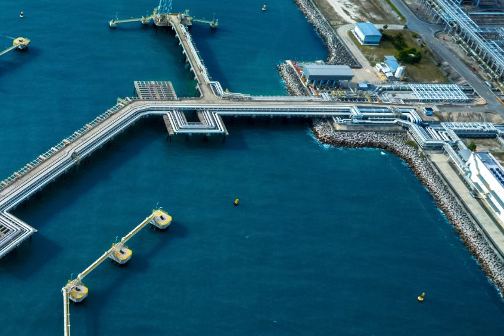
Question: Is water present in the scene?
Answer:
Yes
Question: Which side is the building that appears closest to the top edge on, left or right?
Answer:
right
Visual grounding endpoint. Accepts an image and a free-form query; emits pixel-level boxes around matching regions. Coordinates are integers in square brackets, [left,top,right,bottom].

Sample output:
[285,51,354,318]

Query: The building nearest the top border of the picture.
[350,20,384,46]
